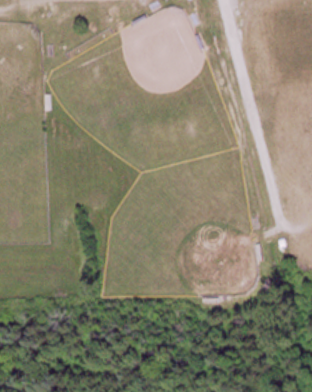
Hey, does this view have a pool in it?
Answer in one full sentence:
No, this view has no pool in it.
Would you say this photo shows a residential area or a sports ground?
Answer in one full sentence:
This image shows a sports ground.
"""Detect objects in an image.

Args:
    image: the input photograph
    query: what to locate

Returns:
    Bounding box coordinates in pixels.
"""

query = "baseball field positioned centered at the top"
[48,6,240,172]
